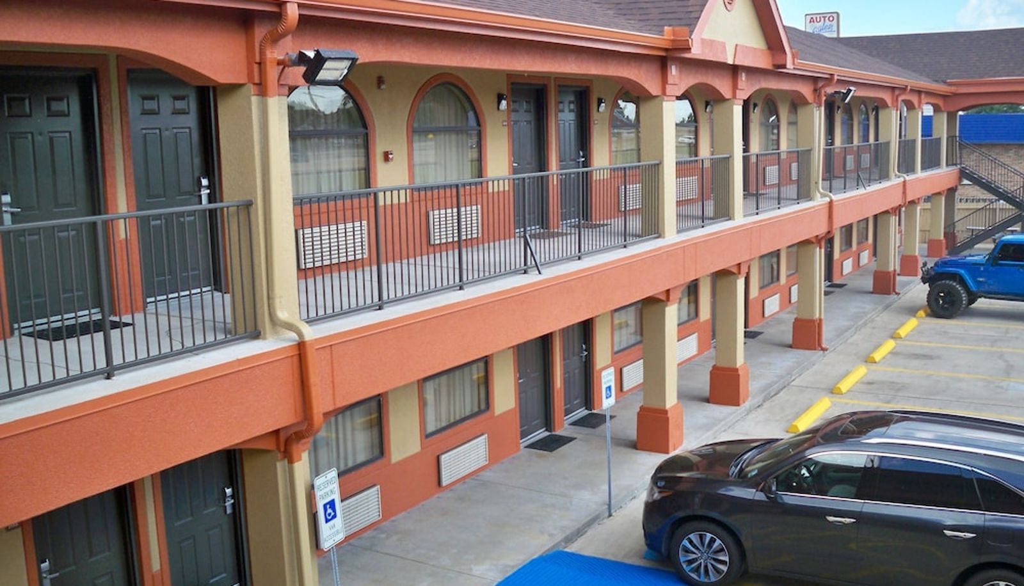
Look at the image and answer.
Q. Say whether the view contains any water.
No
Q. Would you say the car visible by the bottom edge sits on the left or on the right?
right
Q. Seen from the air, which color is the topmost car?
blue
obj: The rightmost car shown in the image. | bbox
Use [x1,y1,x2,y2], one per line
[917,231,1024,319]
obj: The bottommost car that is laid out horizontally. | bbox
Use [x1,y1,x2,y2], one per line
[638,406,1024,586]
